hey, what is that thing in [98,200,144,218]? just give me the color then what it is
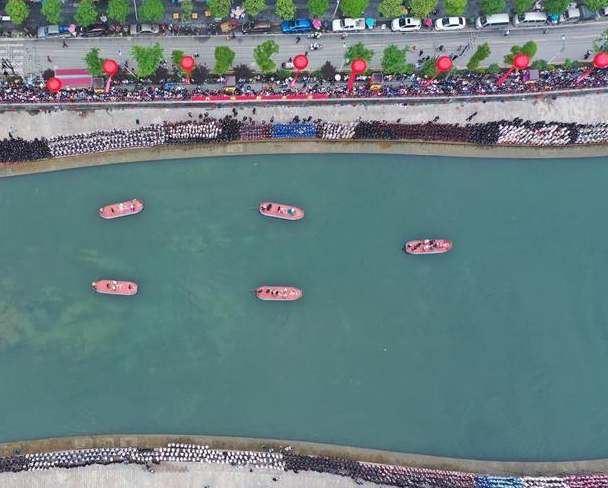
pink boat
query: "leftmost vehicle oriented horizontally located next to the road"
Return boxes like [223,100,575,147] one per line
[38,24,73,40]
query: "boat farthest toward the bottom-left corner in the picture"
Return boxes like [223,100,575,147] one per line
[93,280,140,295]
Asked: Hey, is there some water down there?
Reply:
Yes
